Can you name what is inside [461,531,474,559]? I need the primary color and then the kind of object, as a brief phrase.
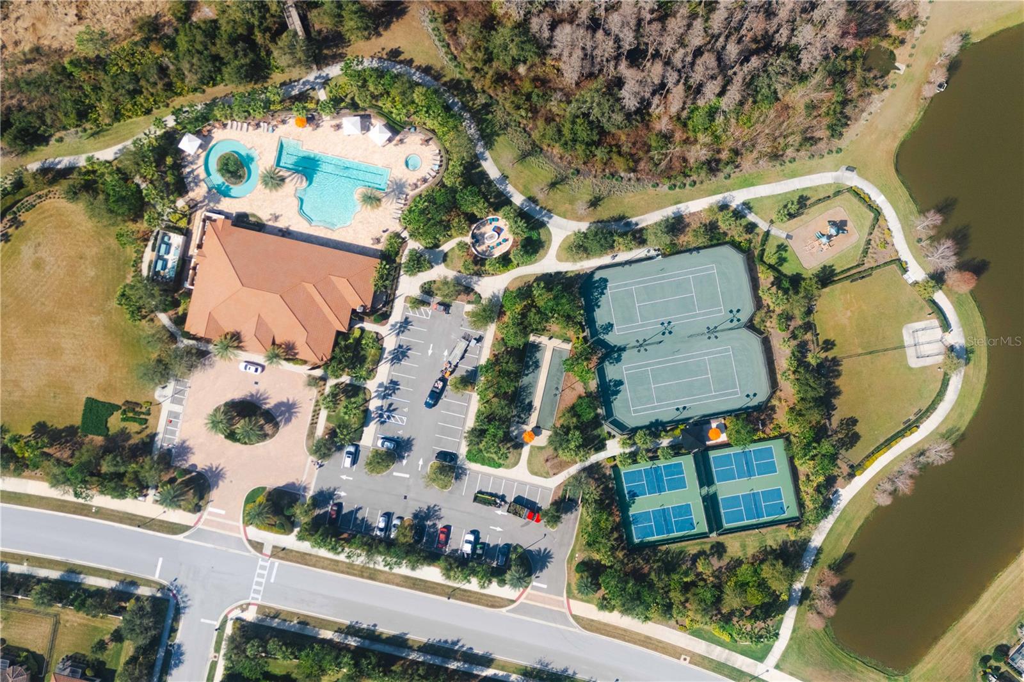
white vehicle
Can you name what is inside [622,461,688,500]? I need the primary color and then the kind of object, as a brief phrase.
blue sports court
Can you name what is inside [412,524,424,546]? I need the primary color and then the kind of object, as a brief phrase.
black vehicle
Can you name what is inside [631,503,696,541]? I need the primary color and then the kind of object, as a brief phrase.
blue sports court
